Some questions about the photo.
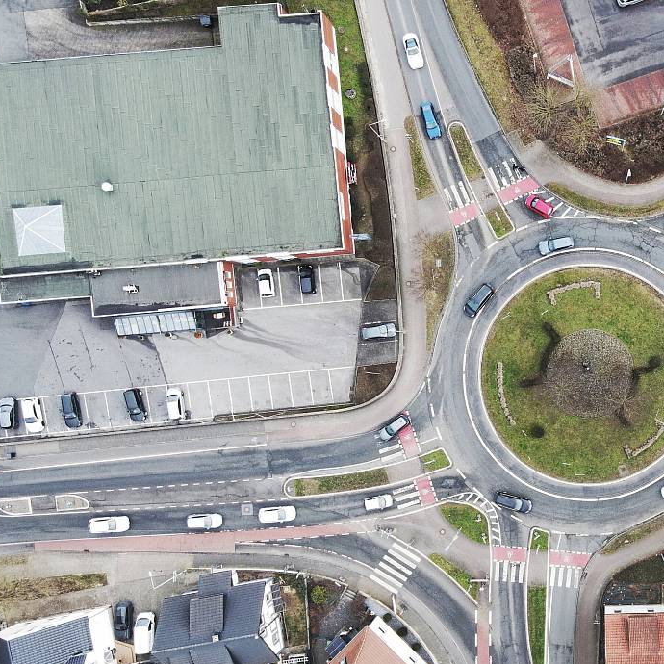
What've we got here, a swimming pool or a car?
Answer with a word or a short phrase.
car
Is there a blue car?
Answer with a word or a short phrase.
Yes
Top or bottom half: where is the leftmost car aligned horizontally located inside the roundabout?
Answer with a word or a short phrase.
bottom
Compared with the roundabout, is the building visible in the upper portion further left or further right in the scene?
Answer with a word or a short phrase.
on its left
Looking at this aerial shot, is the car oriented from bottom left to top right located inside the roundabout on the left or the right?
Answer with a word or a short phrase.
right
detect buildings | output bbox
[606,585,664,664]
[330,617,424,664]
[149,553,318,664]
[0,603,122,664]
[0,1,370,336]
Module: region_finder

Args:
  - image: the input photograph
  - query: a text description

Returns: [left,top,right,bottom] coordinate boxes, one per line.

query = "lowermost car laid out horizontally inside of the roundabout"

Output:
[495,491,531,512]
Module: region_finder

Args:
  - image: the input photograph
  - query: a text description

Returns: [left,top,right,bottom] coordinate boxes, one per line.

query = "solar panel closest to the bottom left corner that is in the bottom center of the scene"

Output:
[274,577,290,612]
